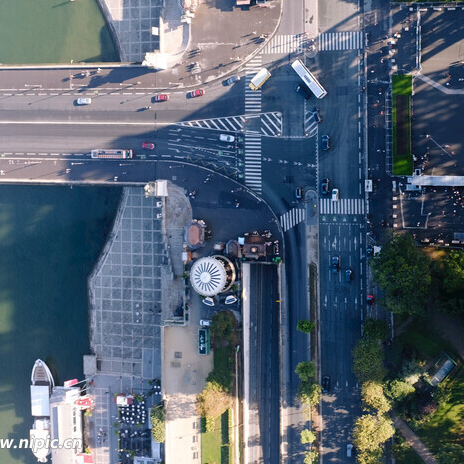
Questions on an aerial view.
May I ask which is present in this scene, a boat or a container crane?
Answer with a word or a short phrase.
boat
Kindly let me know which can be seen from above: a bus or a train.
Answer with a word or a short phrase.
bus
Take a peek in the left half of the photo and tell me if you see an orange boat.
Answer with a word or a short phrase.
No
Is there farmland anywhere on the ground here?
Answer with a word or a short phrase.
No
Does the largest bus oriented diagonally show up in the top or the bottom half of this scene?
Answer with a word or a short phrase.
top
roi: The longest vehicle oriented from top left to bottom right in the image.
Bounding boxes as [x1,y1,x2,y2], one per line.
[287,58,325,101]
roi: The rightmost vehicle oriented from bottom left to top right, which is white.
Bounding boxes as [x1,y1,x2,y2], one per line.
[245,65,268,90]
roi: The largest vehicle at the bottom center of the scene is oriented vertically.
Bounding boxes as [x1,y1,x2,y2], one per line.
[195,329,208,359]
